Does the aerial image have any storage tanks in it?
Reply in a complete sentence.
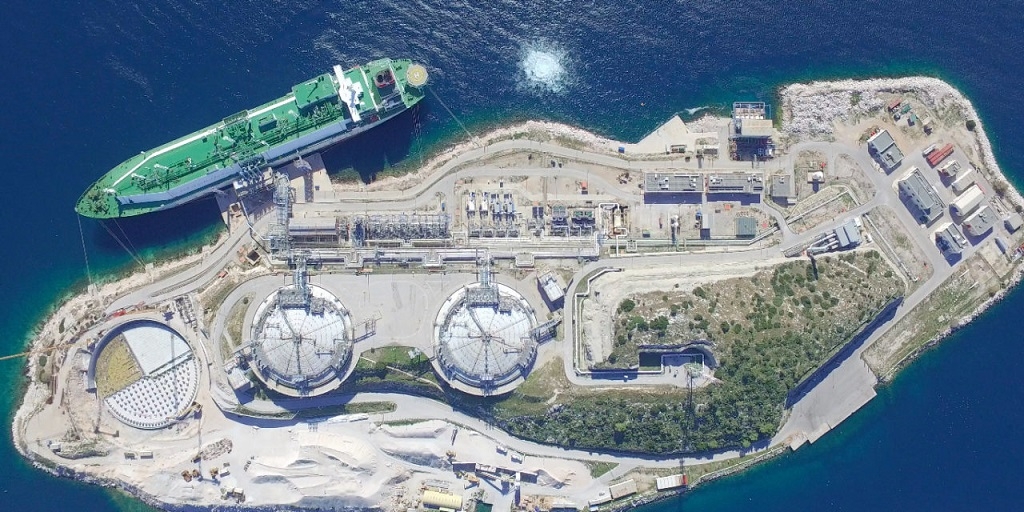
Yes, the picture does show a storage tank.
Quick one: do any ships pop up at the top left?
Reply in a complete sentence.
Yes, a ship can be seen at the top left.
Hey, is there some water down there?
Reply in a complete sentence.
Yes, water shows up in the scene.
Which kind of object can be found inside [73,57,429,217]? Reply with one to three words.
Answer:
ship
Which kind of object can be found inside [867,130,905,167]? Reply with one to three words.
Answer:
building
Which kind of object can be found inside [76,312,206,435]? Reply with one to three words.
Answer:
storage tank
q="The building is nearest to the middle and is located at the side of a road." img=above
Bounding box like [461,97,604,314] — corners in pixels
[538,271,565,302]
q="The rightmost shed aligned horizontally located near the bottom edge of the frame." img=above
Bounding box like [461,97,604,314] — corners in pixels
[655,473,689,490]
